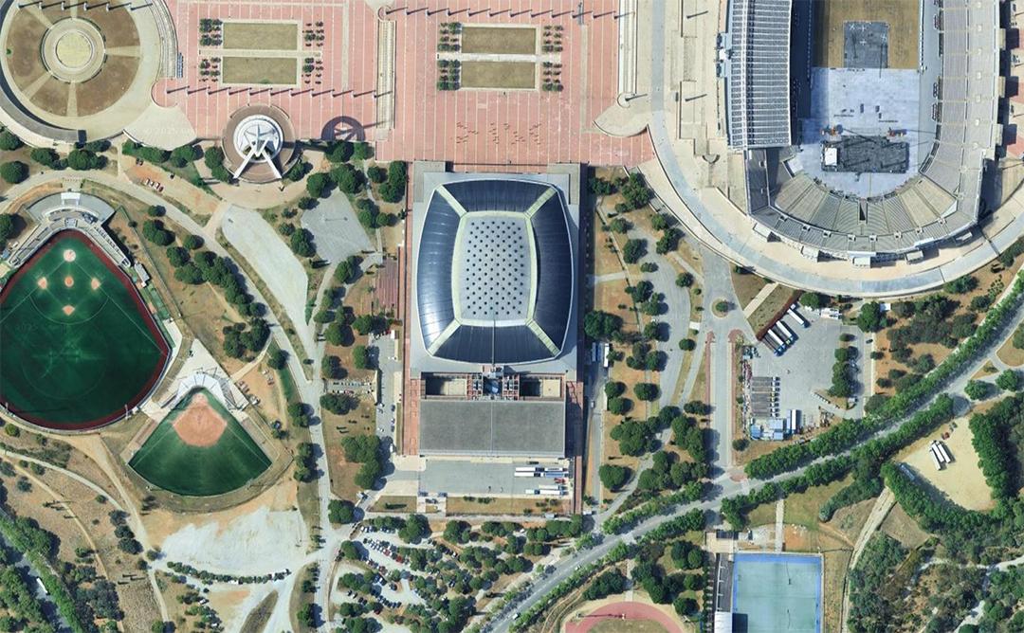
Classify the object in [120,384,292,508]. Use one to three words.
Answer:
baseball field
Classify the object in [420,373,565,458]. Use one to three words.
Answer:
building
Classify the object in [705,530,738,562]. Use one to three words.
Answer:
building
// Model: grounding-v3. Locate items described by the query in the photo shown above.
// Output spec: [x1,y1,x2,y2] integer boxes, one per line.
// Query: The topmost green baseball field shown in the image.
[0,230,169,431]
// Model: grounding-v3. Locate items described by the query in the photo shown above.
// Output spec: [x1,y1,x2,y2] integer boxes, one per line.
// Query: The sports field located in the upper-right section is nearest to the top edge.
[813,0,919,68]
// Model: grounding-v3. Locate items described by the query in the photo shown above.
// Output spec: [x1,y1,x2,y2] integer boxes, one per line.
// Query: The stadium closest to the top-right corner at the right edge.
[717,0,1006,267]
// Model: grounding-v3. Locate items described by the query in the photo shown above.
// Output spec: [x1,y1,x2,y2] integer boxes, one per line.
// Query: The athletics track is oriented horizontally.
[557,594,693,633]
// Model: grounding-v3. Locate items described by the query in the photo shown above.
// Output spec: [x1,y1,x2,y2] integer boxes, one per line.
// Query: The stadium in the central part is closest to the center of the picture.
[411,161,580,375]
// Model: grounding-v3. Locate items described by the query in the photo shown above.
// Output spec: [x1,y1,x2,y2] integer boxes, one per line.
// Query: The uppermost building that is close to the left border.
[0,91,87,153]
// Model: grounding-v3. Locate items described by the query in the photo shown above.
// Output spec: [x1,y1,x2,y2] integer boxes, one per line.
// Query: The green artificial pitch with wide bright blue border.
[732,551,824,633]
